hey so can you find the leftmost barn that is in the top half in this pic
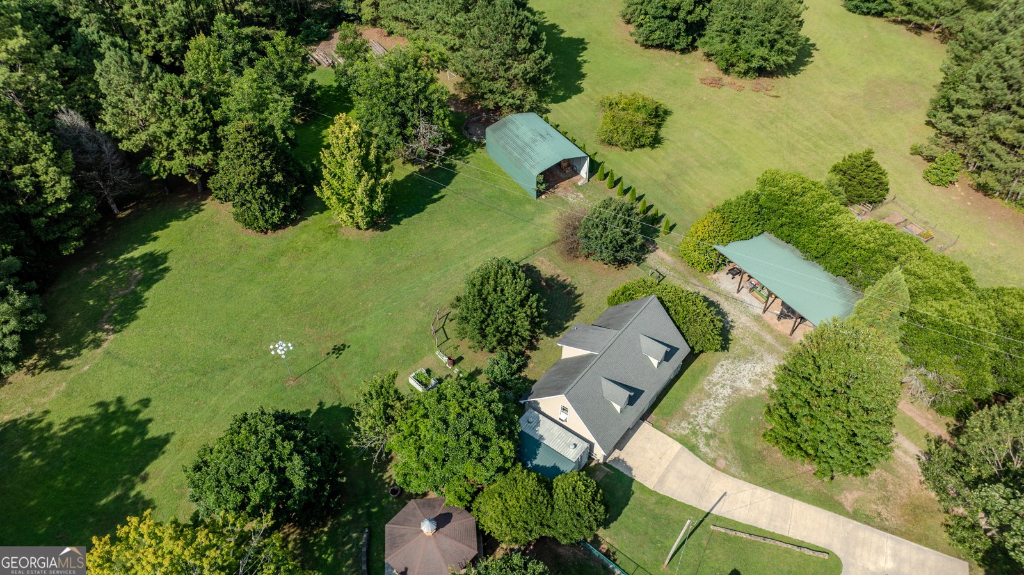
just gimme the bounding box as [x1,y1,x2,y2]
[488,116,589,201]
